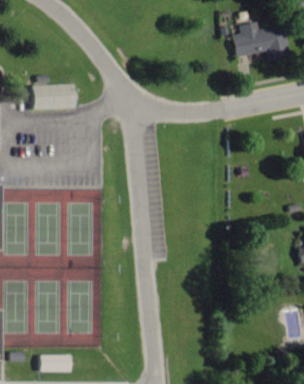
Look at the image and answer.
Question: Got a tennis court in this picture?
Yes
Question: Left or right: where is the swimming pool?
right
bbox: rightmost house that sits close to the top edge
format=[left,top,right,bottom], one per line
[232,12,290,56]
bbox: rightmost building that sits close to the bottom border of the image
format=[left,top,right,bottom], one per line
[40,354,74,374]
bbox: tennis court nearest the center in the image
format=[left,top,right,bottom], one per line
[68,203,93,256]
